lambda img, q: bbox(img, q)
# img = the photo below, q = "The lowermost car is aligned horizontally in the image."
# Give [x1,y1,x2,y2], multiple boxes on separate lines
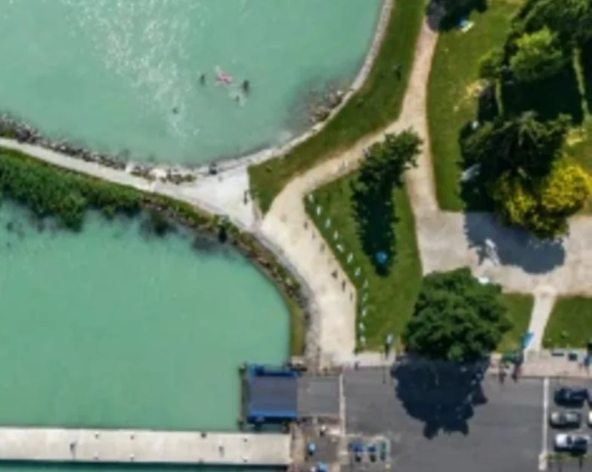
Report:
[552,434,588,452]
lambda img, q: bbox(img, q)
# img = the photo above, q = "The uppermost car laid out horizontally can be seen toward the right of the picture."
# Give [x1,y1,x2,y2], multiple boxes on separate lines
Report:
[552,387,588,405]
